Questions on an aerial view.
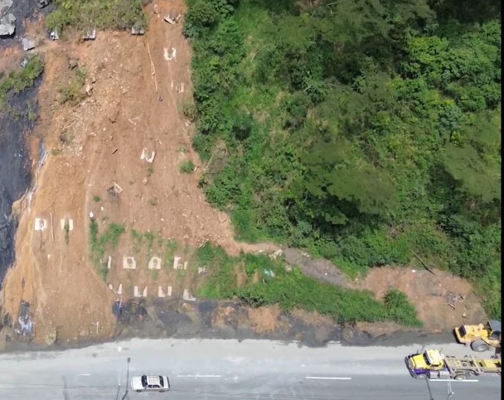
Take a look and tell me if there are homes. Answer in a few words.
No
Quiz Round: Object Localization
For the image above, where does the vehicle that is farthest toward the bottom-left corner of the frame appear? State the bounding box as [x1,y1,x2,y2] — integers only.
[129,372,170,391]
